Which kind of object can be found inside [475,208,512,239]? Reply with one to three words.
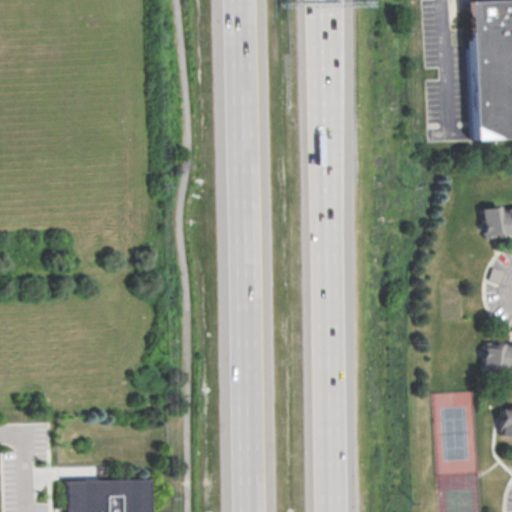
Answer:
house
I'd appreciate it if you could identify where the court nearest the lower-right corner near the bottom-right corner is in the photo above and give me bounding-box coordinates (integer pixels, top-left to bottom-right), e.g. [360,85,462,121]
[436,474,482,512]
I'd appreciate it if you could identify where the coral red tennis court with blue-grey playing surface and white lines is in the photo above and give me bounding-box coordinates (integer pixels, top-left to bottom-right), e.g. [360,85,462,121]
[431,392,480,476]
